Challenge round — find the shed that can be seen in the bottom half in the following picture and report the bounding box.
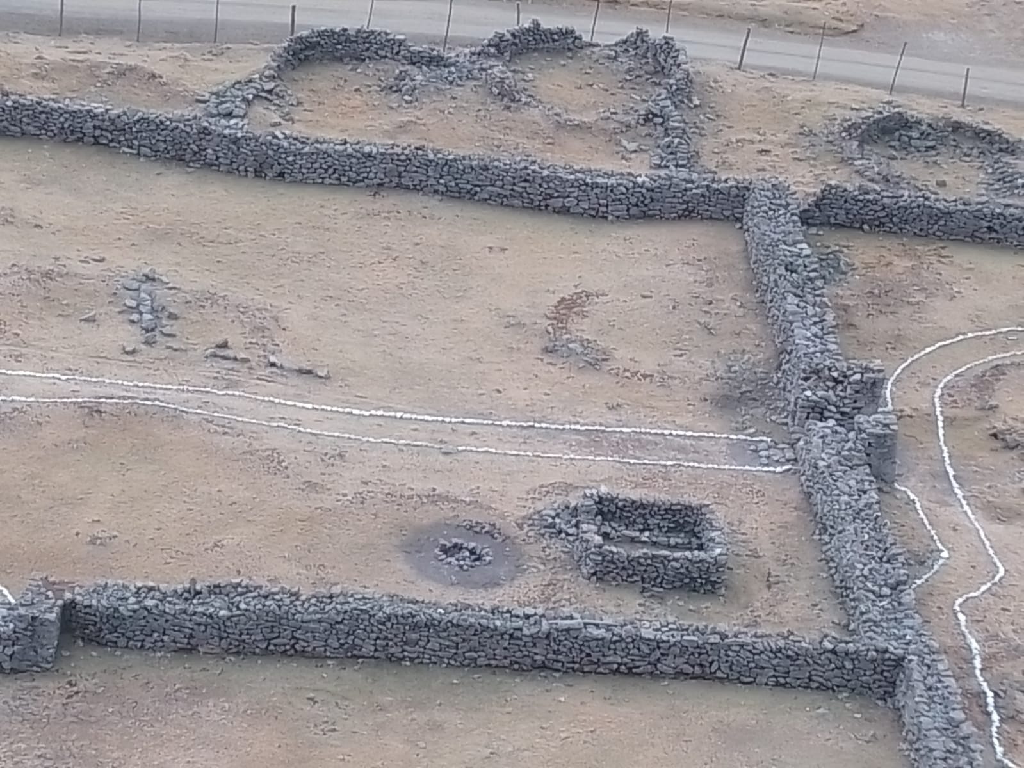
[580,491,736,597]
